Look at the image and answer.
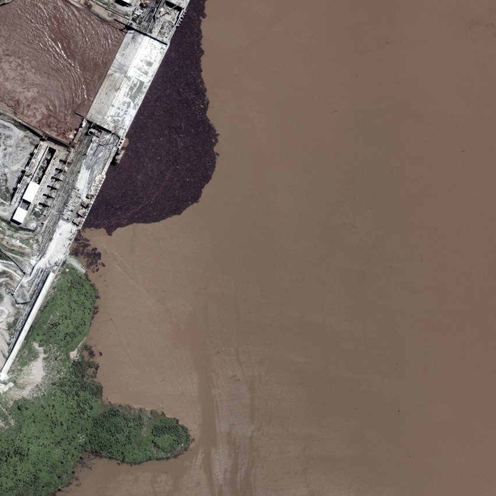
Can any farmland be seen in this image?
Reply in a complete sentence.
No, farmland can't be seen anywhere here.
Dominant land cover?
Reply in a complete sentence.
Most of the picture is covered by water.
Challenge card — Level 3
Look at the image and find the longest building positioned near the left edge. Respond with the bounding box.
[3,142,70,225]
